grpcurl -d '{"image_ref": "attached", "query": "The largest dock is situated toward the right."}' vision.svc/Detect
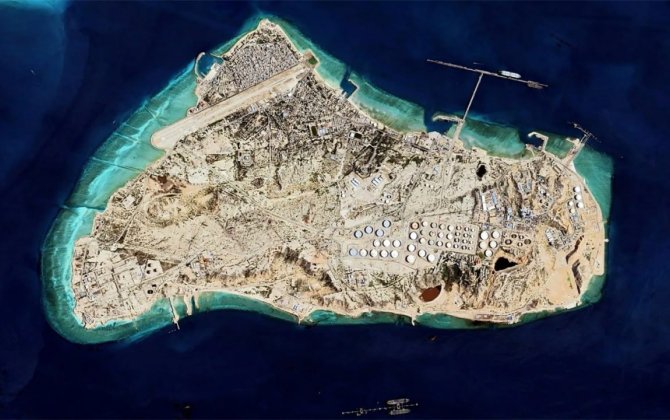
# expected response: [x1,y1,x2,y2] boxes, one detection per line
[427,59,548,150]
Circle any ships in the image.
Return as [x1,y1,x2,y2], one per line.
[390,410,411,415]
[499,70,522,79]
[387,398,410,404]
